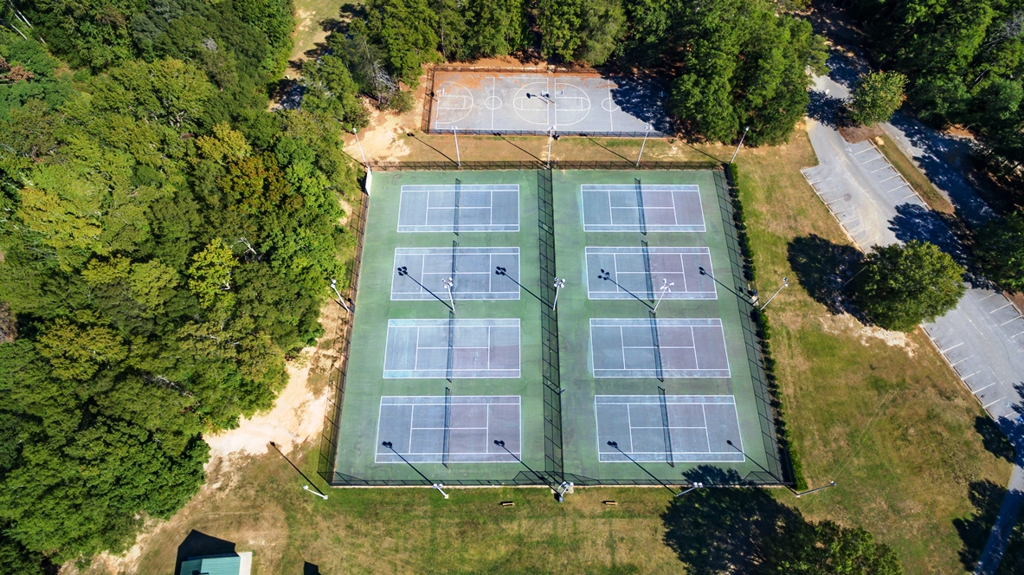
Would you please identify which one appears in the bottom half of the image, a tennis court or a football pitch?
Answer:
tennis court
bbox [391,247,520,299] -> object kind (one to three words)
tennis court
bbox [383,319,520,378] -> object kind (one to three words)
tennis court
